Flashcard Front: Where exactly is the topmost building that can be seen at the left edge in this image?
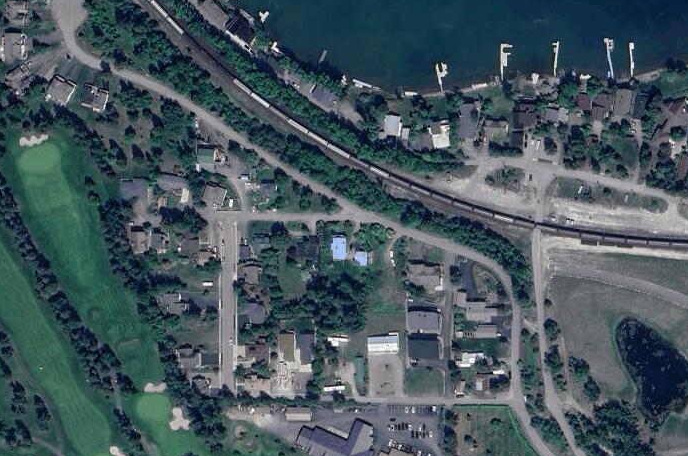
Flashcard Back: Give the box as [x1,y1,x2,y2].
[6,1,28,25]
